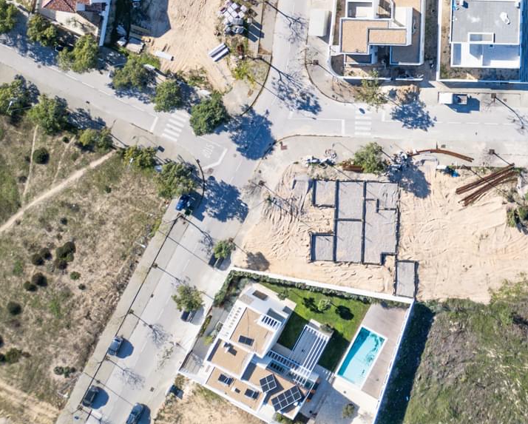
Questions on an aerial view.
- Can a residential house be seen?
Yes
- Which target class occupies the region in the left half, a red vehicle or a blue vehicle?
blue vehicle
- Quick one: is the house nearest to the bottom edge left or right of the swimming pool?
on the left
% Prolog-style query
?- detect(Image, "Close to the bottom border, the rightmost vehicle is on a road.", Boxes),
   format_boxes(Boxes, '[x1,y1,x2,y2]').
[128,402,147,424]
